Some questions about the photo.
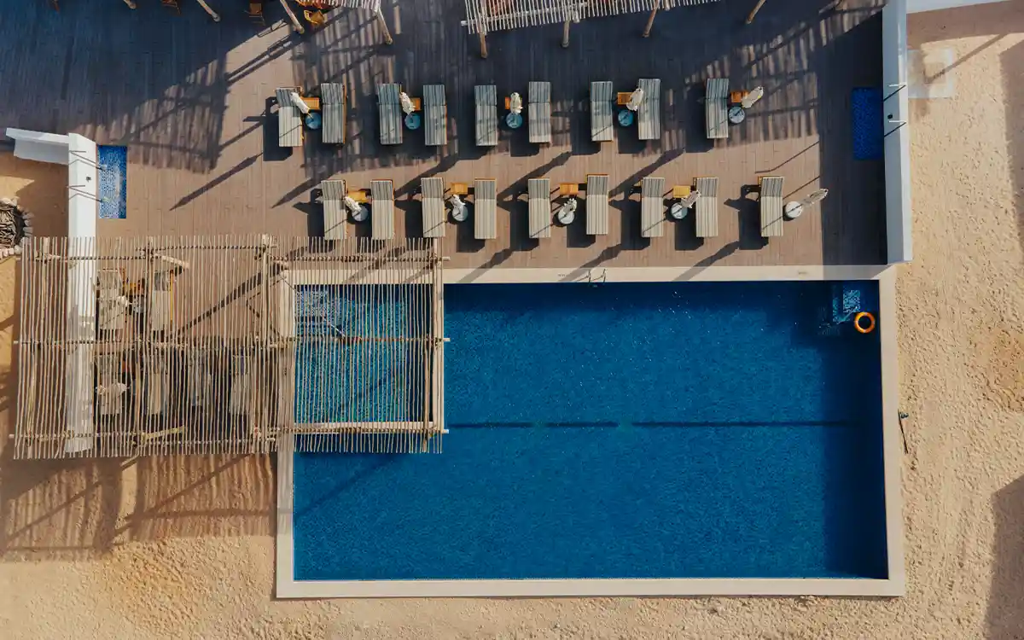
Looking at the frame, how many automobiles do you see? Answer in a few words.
0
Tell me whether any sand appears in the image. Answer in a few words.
Yes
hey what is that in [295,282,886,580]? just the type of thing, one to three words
swimming pool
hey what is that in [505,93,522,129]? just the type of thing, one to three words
umbrella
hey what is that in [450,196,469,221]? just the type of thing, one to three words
umbrella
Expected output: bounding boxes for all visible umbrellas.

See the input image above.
[450,196,469,221]
[399,93,422,130]
[670,193,698,220]
[728,89,765,125]
[558,202,577,225]
[617,91,639,127]
[785,194,827,218]
[289,95,322,130]
[341,195,369,222]
[505,93,522,129]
